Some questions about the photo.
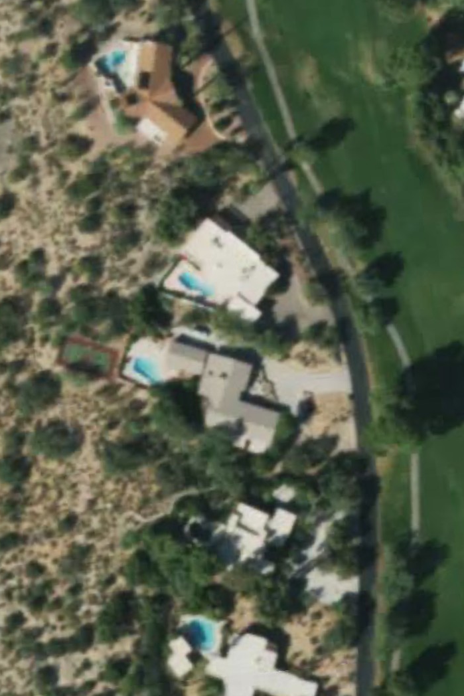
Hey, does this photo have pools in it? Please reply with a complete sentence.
Yes, you can see a pool in this photo.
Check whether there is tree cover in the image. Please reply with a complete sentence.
Yes, some tree cover is visible.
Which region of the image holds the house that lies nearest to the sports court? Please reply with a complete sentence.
The house that lies nearest to the sports court sits in the center section of the image.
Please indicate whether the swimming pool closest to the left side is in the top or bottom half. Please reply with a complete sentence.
The swimming pool closest to the left side sits in the top half of the picture.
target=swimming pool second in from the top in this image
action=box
[178,271,215,298]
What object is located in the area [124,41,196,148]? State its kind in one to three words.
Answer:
house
